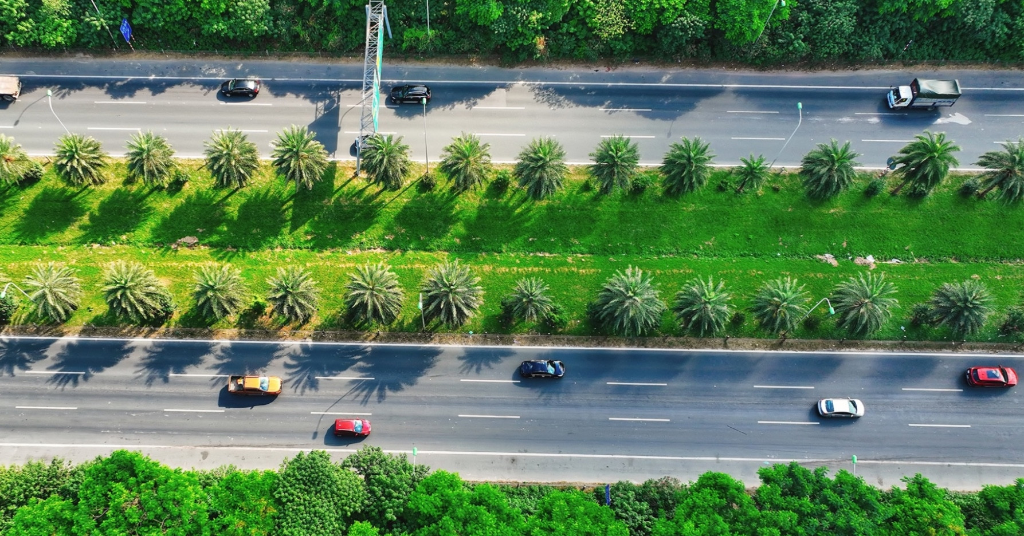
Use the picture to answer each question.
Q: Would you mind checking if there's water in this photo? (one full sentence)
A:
No, there is no water in the image.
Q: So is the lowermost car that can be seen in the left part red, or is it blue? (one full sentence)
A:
The lowermost car that can be seen in the left part is red.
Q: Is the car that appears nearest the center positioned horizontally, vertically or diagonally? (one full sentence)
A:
Seen from above, the car that appears nearest the center lies horizontally.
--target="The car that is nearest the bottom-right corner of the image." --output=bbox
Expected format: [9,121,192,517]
[964,364,1016,387]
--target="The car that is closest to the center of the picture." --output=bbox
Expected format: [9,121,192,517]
[520,357,566,379]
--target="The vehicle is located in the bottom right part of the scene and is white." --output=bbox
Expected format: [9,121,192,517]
[815,396,864,418]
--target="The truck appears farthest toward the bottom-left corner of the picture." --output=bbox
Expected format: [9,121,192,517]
[227,373,284,396]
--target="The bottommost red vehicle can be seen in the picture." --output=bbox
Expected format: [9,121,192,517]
[334,417,373,438]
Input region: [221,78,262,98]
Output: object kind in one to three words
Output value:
car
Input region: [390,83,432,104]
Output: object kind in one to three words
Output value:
car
